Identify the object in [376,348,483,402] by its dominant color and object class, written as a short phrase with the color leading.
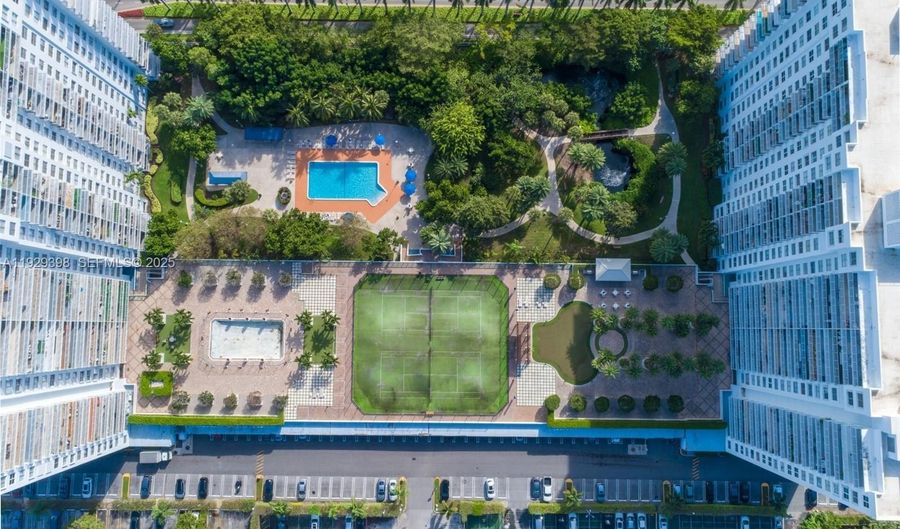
green tennis court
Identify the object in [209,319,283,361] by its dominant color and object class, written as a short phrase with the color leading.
white swimming pool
